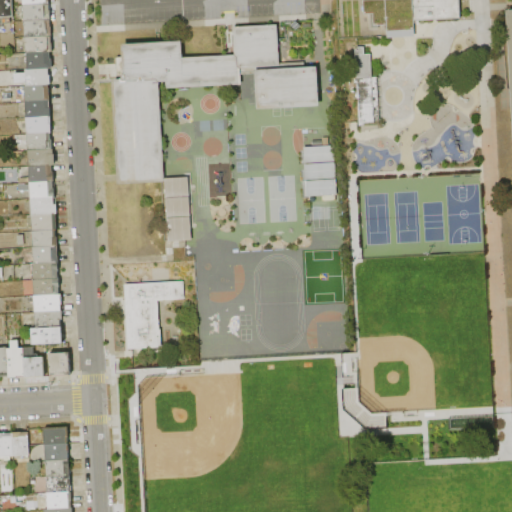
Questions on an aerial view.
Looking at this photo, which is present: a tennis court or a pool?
tennis court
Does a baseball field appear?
Yes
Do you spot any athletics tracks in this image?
Yes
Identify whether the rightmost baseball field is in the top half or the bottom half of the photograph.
bottom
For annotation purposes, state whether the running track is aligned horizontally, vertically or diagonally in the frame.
vertically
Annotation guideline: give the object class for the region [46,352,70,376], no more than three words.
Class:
house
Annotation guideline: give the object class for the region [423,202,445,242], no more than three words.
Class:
sports court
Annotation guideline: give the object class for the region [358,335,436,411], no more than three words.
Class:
baseball field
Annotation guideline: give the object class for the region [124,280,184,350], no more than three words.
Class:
building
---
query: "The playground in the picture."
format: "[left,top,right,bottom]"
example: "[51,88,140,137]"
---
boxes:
[160,13,340,261]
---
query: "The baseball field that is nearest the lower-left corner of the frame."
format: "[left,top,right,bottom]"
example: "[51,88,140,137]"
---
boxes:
[141,372,244,480]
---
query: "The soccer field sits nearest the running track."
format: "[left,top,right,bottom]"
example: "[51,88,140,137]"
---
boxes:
[303,250,344,304]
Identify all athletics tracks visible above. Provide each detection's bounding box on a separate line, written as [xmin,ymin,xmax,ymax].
[255,254,306,350]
